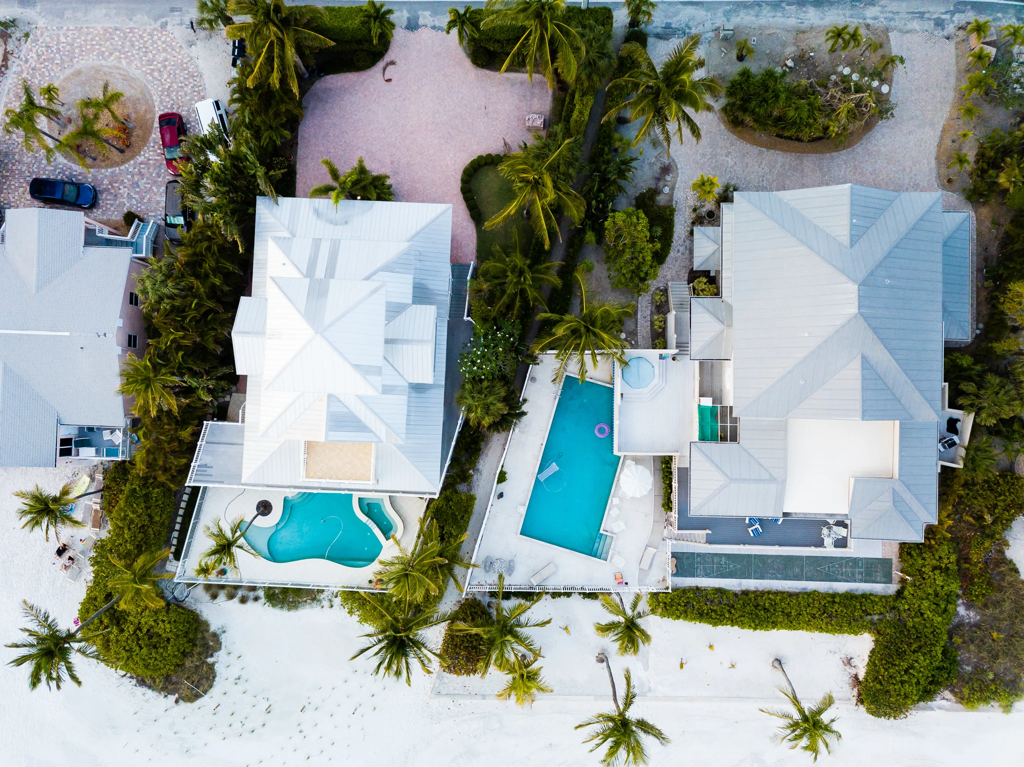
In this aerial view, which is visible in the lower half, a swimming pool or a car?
swimming pool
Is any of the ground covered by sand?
Yes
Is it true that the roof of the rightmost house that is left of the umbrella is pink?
No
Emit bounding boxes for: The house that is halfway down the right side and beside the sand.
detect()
[612,183,976,552]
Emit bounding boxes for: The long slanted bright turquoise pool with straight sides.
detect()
[516,374,624,565]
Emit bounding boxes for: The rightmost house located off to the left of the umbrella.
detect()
[181,195,475,498]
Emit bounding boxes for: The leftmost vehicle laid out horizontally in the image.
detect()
[31,178,98,209]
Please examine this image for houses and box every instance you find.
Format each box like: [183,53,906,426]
[0,208,167,467]
[612,183,976,552]
[181,195,475,498]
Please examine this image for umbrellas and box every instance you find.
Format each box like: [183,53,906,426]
[620,463,650,493]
